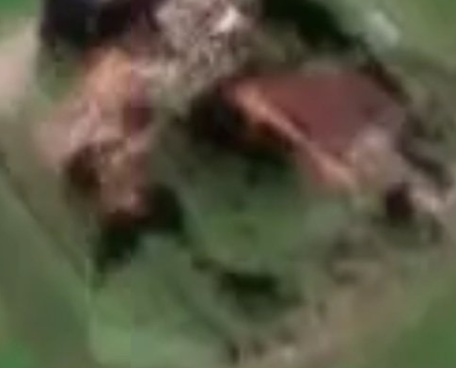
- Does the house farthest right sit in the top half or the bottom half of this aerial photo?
top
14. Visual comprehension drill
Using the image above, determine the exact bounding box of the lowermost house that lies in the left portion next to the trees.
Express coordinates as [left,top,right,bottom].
[85,52,161,217]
